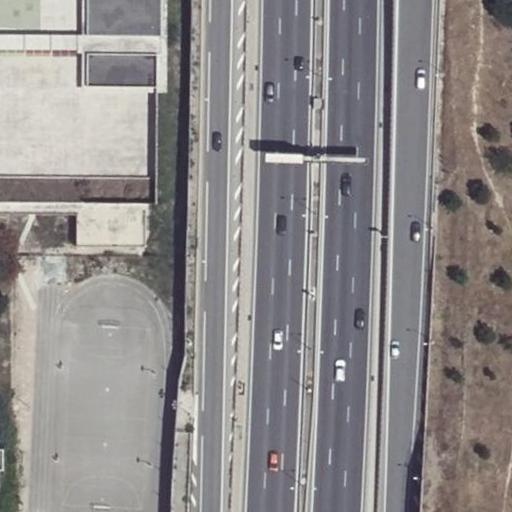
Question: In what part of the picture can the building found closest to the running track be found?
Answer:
left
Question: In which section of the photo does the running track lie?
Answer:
bottom left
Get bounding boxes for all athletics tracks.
[29,276,176,512]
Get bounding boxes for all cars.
[336,360,346,381]
[356,308,365,328]
[264,82,274,102]
[390,341,400,359]
[274,330,284,350]
[269,450,278,470]
[295,56,304,71]
[212,132,222,151]
[417,68,426,88]
[342,174,352,195]
[277,216,287,235]
[412,222,421,242]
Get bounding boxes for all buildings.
[0,202,148,250]
[0,0,168,178]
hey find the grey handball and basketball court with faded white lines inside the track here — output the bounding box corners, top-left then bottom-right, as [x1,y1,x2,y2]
[64,327,150,512]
